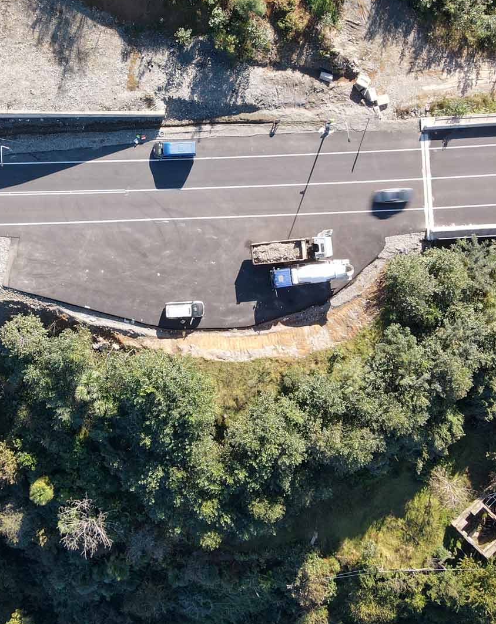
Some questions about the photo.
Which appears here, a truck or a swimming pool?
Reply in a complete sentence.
It is a truck that can be seen here.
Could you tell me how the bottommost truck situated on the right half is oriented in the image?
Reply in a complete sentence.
The bottommost truck situated on the right half runs from side to side in the image.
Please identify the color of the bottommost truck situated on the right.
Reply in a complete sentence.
In this view, the bottommost truck situated on the right is white.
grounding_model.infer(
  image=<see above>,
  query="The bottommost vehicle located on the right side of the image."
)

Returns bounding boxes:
[268,259,355,292]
